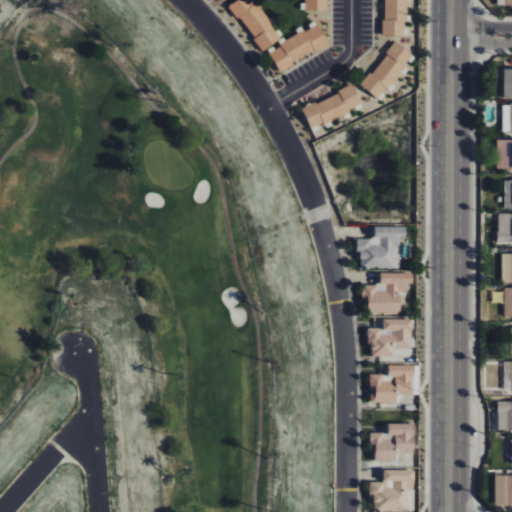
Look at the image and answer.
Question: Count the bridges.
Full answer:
No bridges are visible.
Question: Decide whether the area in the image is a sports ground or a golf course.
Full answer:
The picture captures a golf course.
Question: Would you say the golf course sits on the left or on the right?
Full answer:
You can find the golf course on the left side of the picture.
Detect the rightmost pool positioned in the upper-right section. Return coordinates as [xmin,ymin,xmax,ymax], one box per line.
[485,100,498,127]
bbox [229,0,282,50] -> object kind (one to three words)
building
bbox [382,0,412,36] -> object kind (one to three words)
building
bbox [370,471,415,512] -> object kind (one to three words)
house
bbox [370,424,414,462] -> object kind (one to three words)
house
